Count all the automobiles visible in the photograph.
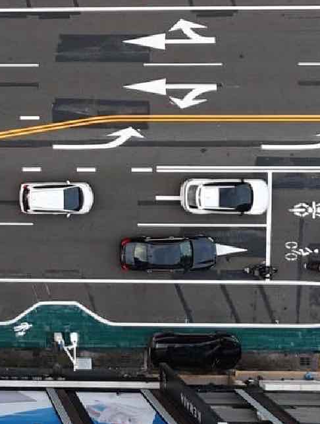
4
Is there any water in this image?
No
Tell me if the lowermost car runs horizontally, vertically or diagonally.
horizontally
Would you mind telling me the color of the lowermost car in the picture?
black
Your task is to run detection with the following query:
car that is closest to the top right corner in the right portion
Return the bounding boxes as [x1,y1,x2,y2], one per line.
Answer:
[179,175,266,218]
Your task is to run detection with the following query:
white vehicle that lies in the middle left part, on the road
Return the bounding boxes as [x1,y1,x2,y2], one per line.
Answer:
[20,180,93,218]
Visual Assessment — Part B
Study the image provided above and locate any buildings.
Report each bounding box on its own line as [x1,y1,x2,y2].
[0,370,201,424]
[194,378,320,424]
